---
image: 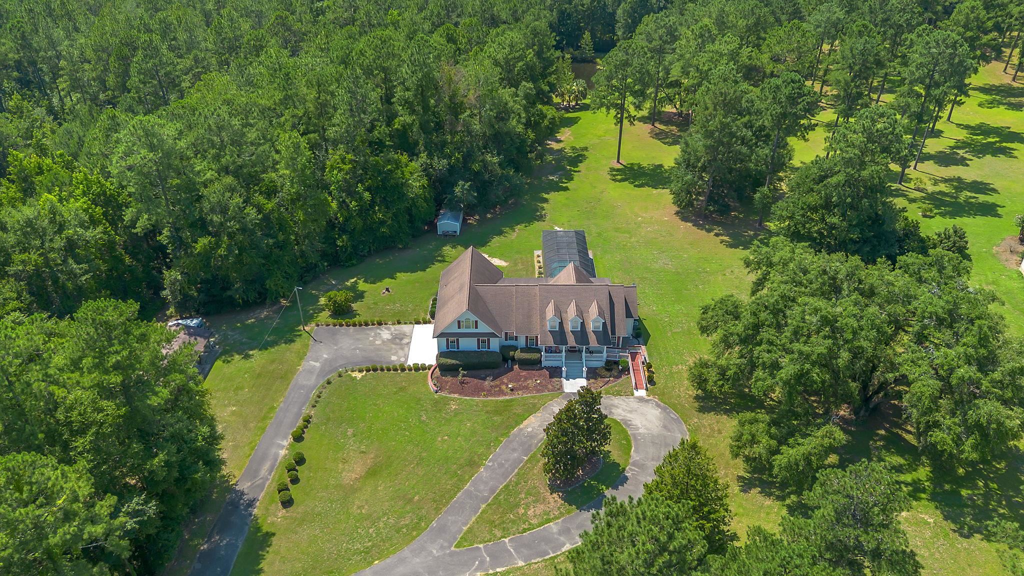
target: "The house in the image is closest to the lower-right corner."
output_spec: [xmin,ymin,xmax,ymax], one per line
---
[432,246,639,378]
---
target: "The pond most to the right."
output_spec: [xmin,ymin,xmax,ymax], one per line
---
[557,51,634,96]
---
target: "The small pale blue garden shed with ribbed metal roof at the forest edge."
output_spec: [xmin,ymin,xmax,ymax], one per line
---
[436,206,463,235]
